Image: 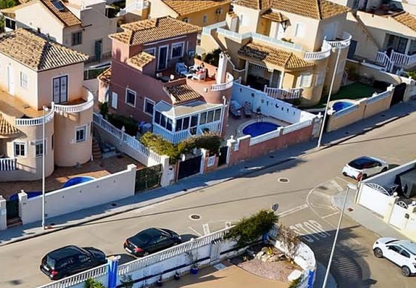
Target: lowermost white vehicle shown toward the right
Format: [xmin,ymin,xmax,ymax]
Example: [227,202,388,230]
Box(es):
[371,238,416,277]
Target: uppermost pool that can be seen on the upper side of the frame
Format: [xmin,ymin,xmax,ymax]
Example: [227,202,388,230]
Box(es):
[325,99,358,115]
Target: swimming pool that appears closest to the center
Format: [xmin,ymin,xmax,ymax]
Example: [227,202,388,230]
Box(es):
[237,120,282,138]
